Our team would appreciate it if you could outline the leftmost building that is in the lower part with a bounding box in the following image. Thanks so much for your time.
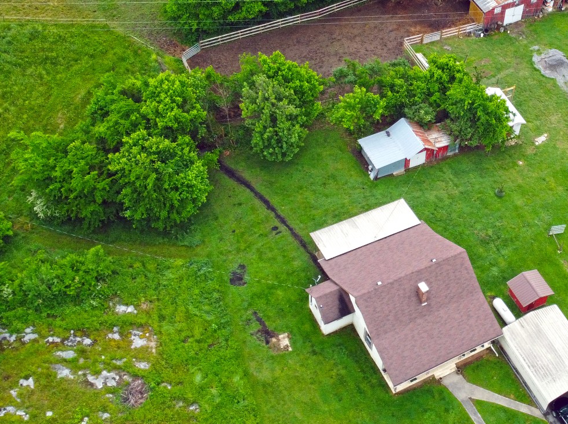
[305,200,504,394]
